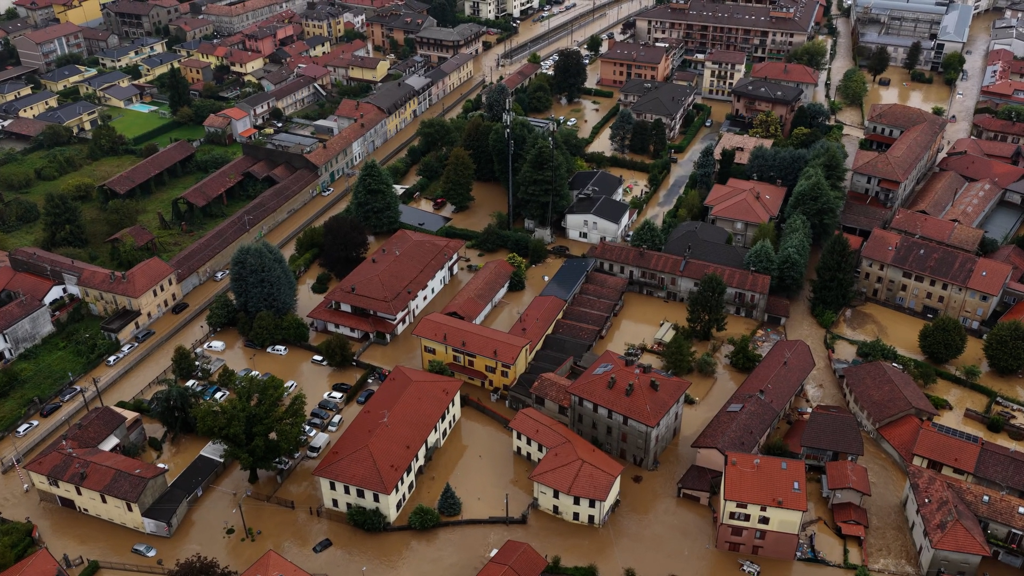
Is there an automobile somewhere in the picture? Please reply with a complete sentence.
Yes, the image includes an automobile.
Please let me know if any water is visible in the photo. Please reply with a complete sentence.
Yes, there's water in this view.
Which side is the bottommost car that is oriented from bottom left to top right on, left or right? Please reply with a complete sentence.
It is on the left.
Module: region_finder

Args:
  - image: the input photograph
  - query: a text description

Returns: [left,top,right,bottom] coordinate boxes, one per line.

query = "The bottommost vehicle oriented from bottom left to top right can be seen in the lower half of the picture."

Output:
[309,536,336,559]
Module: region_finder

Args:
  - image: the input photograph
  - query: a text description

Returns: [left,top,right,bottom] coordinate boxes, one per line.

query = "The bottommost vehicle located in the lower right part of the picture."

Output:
[732,556,760,576]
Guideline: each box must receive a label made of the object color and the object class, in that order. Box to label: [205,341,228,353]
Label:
white vehicle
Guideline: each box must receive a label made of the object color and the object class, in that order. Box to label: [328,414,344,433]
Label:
white car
